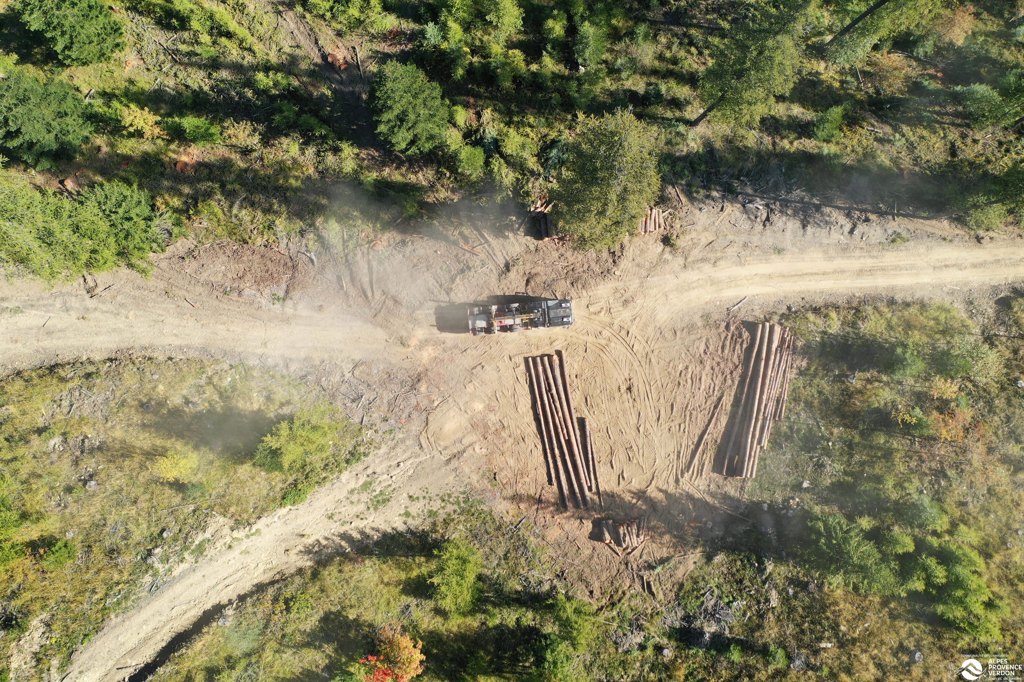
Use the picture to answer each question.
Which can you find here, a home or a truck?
truck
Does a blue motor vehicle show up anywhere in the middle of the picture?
No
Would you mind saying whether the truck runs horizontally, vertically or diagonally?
horizontally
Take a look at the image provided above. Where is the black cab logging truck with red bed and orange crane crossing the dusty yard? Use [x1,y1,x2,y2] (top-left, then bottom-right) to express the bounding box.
[469,295,576,335]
